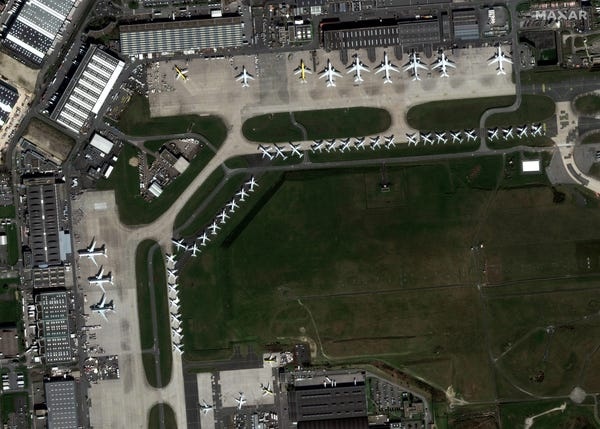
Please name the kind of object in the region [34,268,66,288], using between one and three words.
building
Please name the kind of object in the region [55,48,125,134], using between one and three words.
hangar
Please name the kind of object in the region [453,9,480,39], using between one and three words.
hangar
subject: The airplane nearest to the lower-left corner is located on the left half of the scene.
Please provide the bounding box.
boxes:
[91,297,114,321]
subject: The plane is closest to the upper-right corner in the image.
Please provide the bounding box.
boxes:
[489,47,513,74]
